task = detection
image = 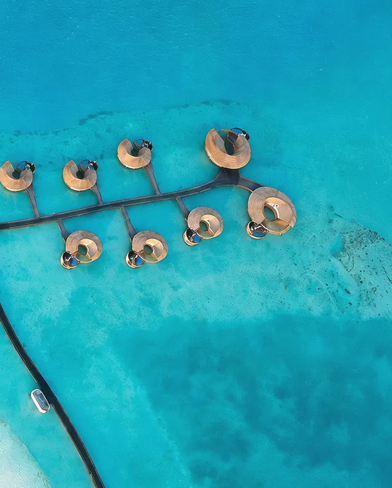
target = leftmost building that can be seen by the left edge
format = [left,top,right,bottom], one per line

[0,161,34,193]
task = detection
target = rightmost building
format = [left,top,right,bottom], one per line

[245,189,298,239]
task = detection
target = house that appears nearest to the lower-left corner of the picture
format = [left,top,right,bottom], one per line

[62,232,102,269]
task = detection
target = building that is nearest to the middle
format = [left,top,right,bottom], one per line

[182,209,224,246]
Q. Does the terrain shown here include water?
Yes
